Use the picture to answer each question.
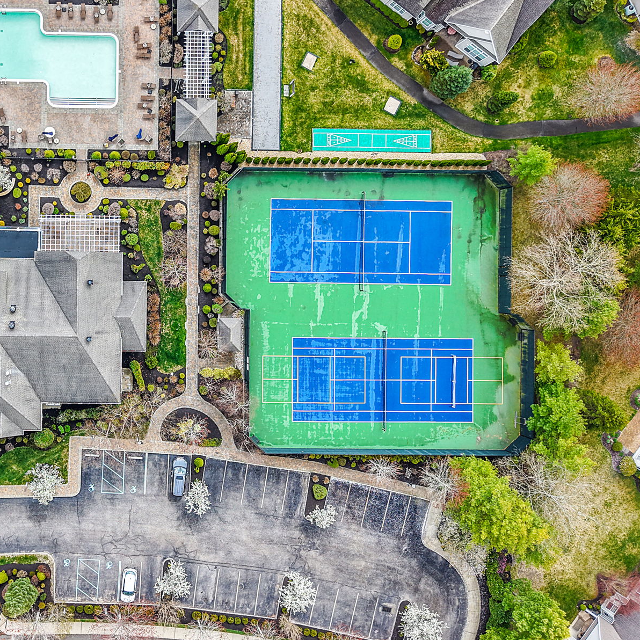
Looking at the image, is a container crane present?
No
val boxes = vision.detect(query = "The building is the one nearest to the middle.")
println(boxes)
[216,317,242,352]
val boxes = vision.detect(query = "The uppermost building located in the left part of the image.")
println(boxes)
[176,0,219,40]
